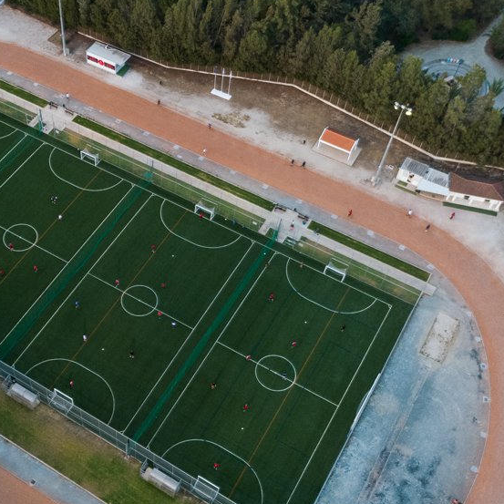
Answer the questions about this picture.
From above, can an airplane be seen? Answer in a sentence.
No, there appears to be no airplane in this shot.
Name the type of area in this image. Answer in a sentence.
The picture captures a sports ground.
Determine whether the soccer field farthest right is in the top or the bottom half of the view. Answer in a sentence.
You can find the soccer field farthest right in the bottom half.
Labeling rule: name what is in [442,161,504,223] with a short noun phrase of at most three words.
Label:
building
